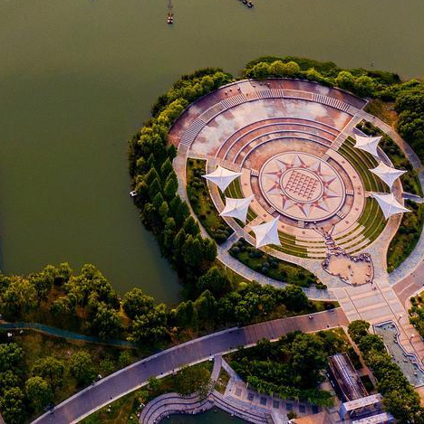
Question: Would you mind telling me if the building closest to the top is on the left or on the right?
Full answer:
The building closest to the top is on the right side of the image.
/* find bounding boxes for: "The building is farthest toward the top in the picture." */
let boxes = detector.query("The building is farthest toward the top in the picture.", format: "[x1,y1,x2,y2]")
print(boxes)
[321,355,366,412]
